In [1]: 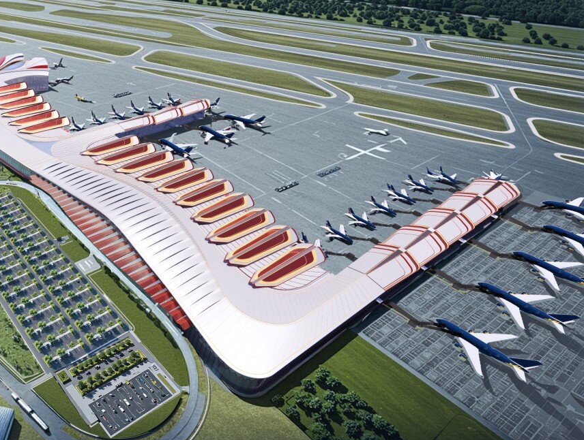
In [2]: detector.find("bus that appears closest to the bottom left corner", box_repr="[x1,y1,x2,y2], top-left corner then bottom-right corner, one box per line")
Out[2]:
[14,395,51,433]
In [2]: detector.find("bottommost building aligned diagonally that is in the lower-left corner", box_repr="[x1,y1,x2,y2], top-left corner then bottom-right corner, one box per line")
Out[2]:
[66,385,99,428]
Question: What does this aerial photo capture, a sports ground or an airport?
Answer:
airport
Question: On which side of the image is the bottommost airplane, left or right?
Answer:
right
